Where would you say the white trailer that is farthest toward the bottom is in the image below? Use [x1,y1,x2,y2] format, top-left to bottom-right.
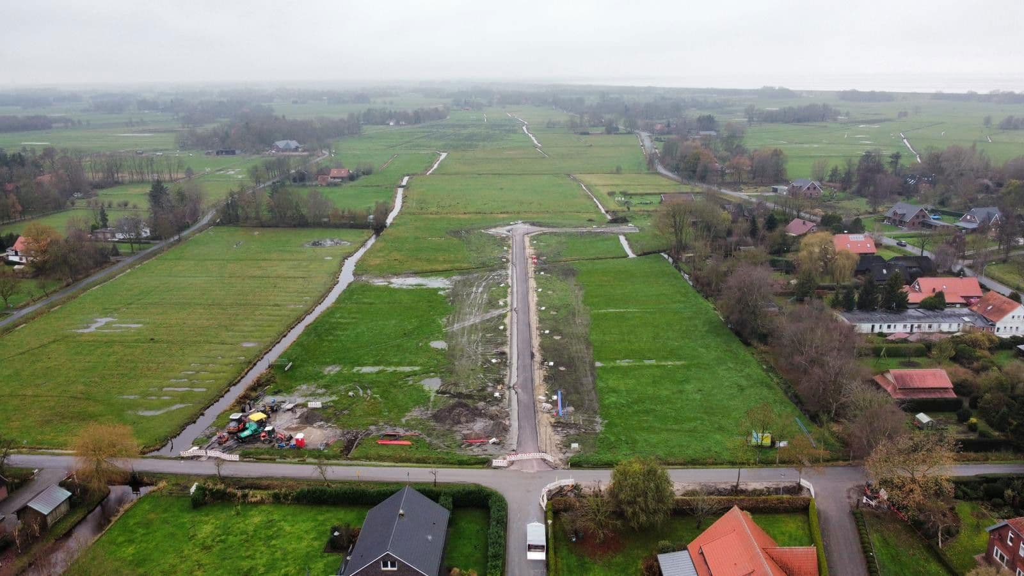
[526,518,547,558]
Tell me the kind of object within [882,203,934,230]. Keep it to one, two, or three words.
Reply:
house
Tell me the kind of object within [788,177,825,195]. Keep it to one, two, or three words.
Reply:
house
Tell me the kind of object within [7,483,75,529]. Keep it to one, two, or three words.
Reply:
shed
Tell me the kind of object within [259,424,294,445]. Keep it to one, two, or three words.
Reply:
work vehicle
